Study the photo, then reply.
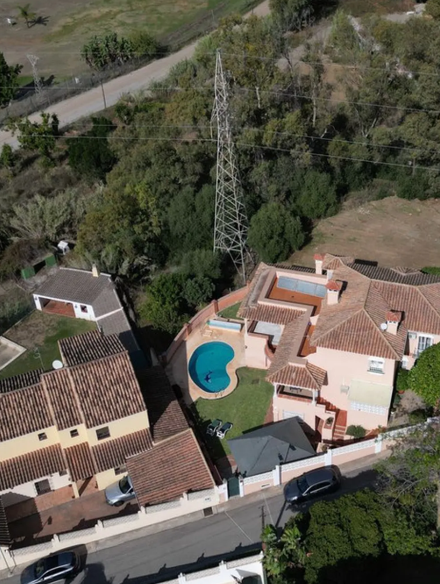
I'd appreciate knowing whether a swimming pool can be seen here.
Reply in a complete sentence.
Yes, you can see a swimming pool in this photo.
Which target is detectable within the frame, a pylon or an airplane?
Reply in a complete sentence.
The image shows a pylon.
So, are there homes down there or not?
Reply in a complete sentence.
Yes, you can see a home in this photo.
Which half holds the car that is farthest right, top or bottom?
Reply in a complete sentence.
The car that is farthest right sits in the bottom half of the picture.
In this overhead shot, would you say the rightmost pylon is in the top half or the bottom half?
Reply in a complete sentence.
The rightmost pylon sits in the top half of the picture.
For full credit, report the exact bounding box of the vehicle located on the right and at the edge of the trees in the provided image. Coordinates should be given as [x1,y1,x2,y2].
[282,461,345,503]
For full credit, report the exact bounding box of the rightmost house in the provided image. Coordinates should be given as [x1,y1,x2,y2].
[236,251,440,429]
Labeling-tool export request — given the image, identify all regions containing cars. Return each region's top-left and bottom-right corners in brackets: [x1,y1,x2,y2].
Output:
[17,542,85,584]
[282,461,345,503]
[99,473,137,507]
